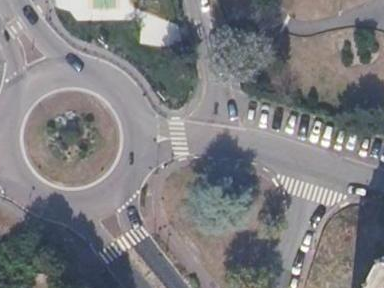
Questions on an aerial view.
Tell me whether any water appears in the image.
No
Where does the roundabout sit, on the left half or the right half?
left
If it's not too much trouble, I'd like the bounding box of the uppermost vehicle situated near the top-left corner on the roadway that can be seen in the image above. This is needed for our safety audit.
[23,5,39,26]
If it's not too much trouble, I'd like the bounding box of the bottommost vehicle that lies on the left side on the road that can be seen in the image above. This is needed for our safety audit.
[128,206,141,227]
